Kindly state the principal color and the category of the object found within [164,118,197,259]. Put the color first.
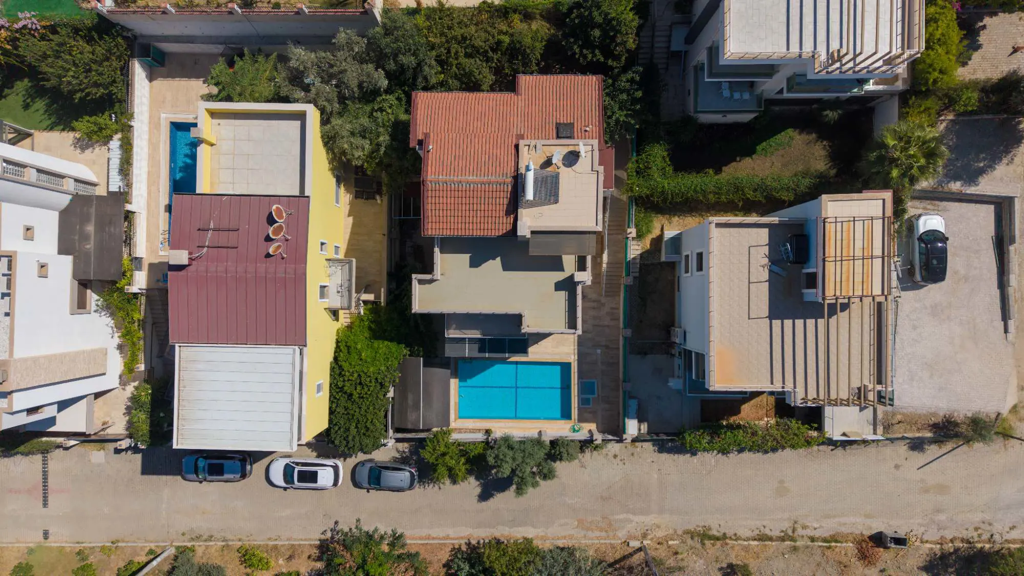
blue swimming pool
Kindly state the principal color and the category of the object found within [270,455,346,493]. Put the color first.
white car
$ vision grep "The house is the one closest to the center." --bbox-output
[408,72,614,357]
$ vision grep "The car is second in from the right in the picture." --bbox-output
[356,458,420,494]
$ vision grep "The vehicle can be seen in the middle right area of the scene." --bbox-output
[912,215,954,284]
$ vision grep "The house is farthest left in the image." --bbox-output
[0,139,133,438]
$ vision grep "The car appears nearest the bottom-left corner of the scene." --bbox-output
[183,450,256,487]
